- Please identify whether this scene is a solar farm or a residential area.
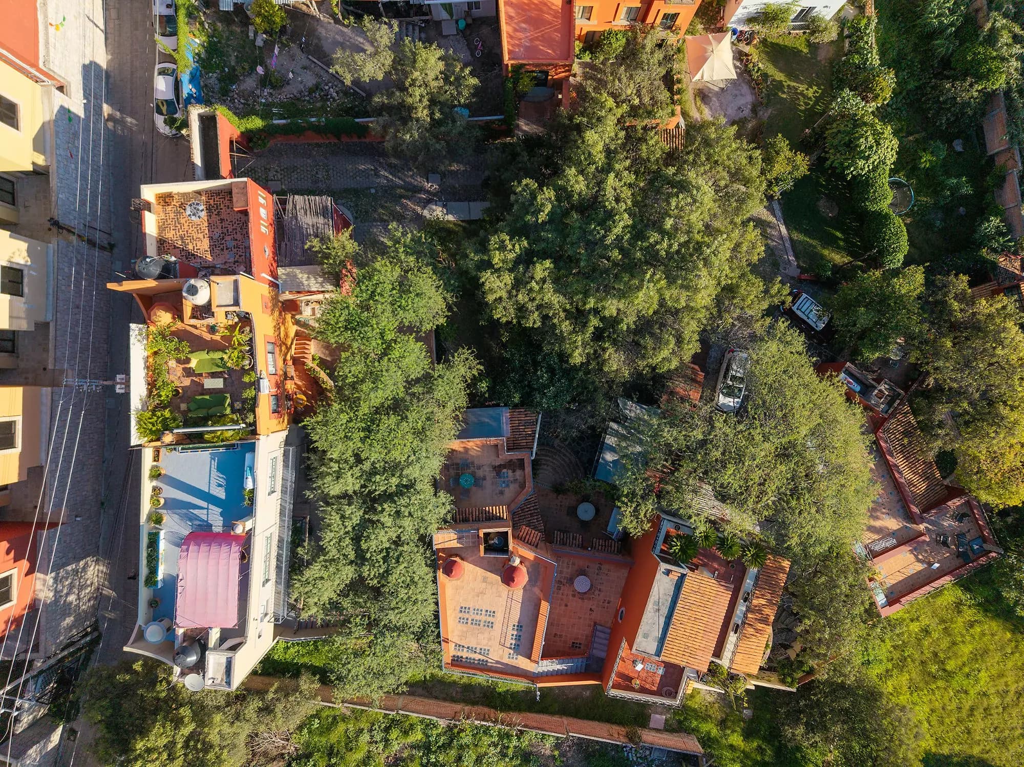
residential area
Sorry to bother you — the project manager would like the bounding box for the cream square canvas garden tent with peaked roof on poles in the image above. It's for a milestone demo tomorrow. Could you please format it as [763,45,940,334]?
[681,31,737,99]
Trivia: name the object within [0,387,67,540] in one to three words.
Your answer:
house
